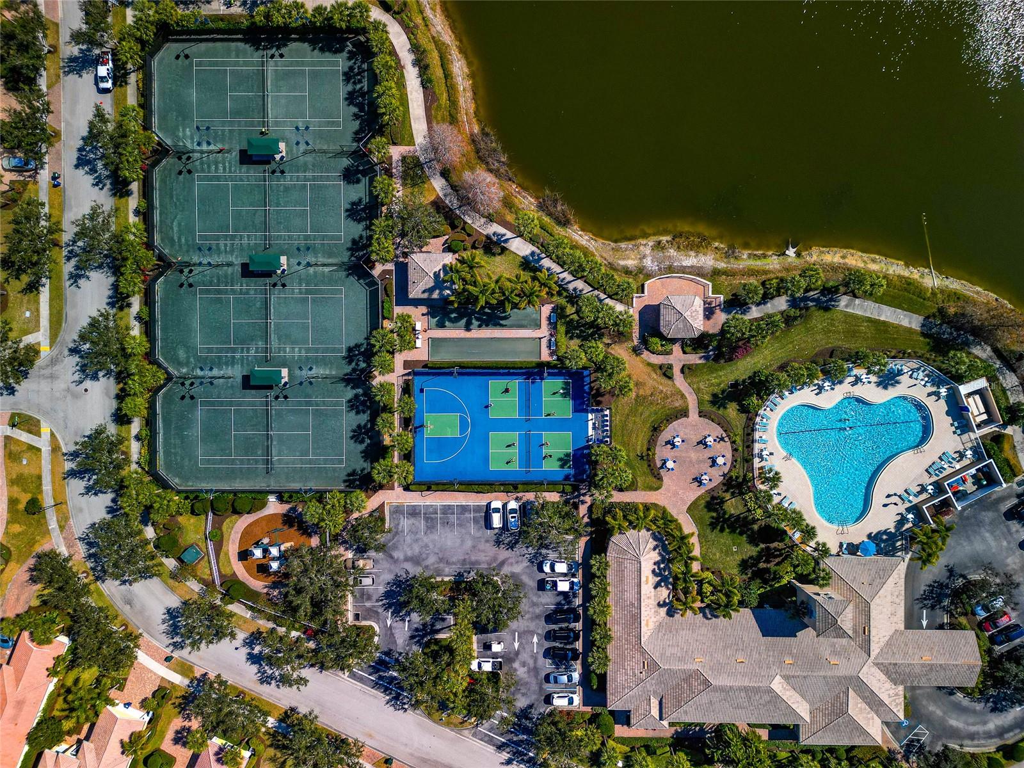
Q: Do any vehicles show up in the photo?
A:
Yes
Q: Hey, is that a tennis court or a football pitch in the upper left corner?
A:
tennis court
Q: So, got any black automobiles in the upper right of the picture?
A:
No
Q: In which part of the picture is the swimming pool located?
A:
right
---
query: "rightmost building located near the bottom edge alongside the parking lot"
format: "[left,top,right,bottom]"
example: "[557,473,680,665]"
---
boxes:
[607,529,982,745]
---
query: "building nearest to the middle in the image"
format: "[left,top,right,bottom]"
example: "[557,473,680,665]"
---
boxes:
[407,252,453,299]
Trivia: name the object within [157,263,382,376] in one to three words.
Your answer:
tennis court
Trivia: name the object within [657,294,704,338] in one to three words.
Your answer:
gazebo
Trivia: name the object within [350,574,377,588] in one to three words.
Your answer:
car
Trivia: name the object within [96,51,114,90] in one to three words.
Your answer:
vehicle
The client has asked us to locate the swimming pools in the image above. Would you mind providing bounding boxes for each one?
[753,360,985,556]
